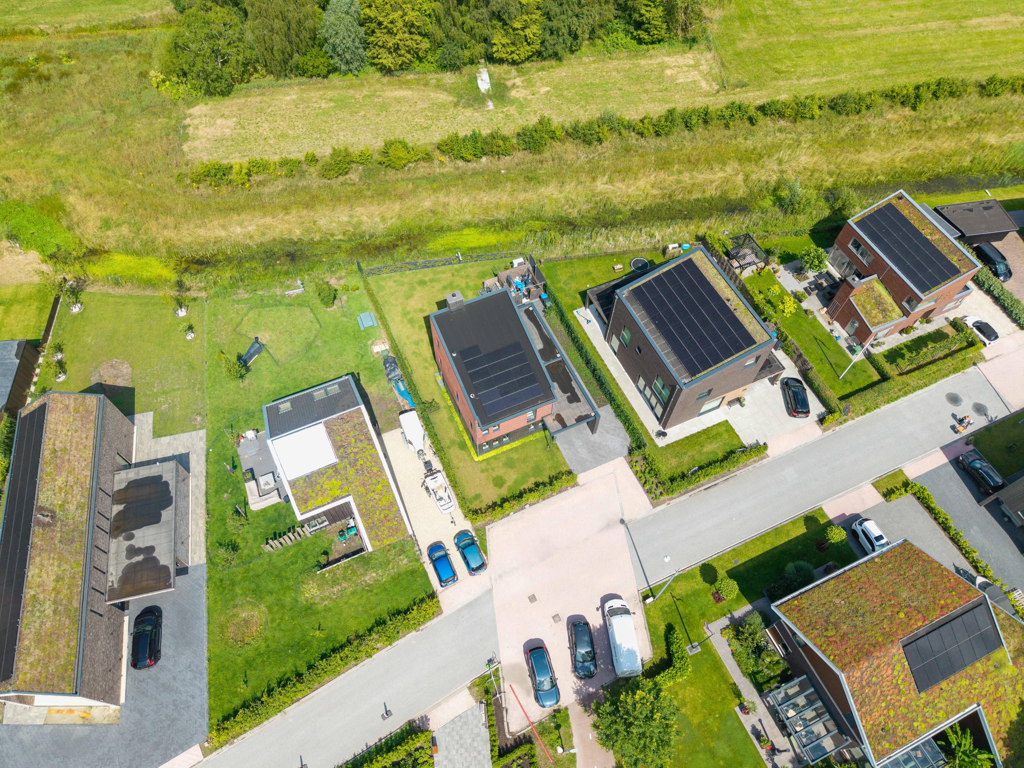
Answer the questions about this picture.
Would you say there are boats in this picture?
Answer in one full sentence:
Yes, the image includes a boat.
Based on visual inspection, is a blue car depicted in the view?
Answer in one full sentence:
Yes, looking at the shot, I can spot a blue car.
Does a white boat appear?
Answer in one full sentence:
Yes, the picture does show a white boat.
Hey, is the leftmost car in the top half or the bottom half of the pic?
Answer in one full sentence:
The leftmost car is in the bottom half of the image.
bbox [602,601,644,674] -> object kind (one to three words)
van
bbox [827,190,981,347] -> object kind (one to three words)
house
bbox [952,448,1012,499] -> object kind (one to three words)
car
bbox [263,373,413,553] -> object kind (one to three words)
house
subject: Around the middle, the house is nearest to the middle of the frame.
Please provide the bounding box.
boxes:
[430,290,600,456]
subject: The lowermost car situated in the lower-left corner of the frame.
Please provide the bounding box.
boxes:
[126,609,162,674]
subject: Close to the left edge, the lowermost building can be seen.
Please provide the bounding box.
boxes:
[0,393,193,729]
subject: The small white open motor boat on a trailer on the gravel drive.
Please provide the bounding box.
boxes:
[425,465,456,517]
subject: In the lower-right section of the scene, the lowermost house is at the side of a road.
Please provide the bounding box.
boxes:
[759,538,1024,768]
